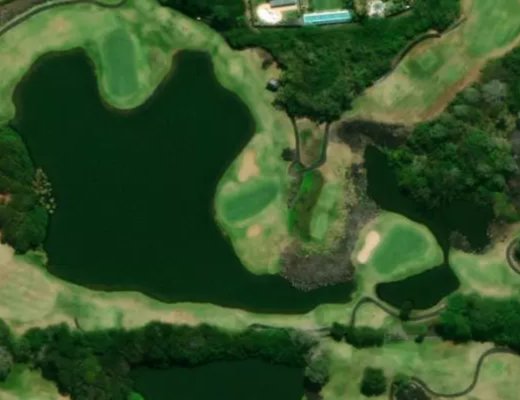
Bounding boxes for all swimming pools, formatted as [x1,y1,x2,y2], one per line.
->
[304,11,352,23]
